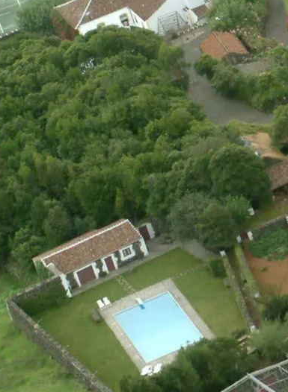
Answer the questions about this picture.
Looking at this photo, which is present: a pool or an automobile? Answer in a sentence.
I can see a pool in this picture.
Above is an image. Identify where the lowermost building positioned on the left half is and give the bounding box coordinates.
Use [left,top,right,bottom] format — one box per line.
[33,216,146,292]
